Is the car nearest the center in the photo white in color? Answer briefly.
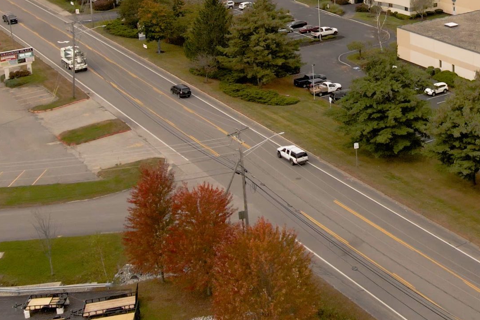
Yes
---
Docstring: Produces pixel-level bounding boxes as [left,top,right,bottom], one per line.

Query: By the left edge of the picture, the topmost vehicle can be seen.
[2,11,18,23]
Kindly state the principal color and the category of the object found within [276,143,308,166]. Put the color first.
white car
